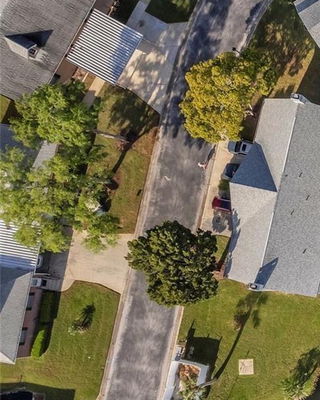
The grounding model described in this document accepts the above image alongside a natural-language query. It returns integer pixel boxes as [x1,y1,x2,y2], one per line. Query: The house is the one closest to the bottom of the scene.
[0,270,59,365]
